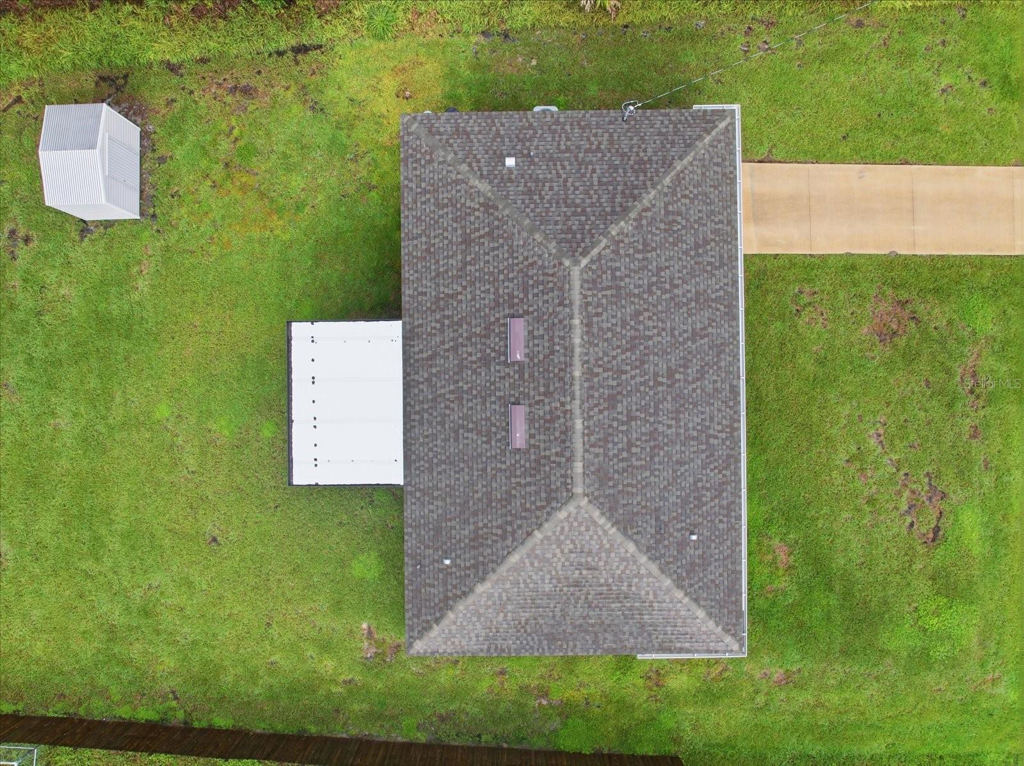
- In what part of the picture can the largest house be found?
center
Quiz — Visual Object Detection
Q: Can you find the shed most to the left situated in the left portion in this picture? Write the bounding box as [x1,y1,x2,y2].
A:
[37,102,140,221]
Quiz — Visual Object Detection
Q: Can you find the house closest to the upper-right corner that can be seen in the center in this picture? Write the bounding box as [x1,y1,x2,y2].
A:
[401,102,748,659]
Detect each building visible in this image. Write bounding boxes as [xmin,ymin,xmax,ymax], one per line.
[401,102,748,659]
[37,102,140,221]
